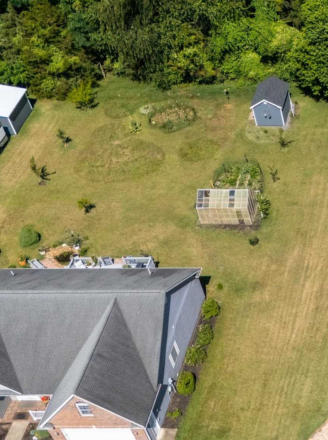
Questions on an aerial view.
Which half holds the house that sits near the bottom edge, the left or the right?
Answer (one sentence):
The house that sits near the bottom edge sits on the left side.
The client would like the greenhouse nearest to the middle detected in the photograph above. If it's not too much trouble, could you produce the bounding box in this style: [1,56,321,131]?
[196,189,255,225]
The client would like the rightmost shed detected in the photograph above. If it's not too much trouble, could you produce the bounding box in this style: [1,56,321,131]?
[250,75,291,126]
